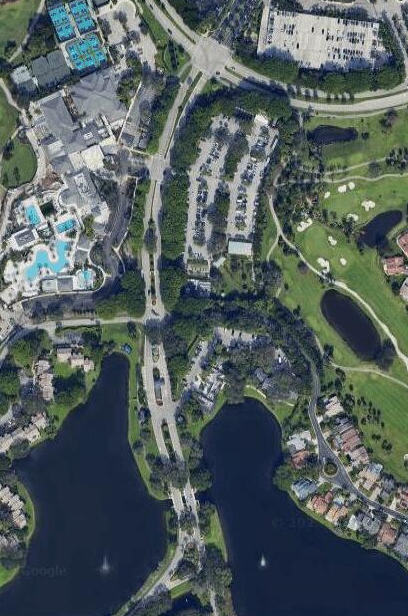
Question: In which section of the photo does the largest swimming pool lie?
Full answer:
The largest swimming pool is located in the left region of the scene.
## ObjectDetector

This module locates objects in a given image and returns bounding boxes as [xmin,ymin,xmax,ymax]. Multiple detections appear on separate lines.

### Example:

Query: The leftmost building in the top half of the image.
[9,226,39,252]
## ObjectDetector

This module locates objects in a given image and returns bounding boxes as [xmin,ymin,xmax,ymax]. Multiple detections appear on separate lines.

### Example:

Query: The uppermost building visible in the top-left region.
[74,66,125,116]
